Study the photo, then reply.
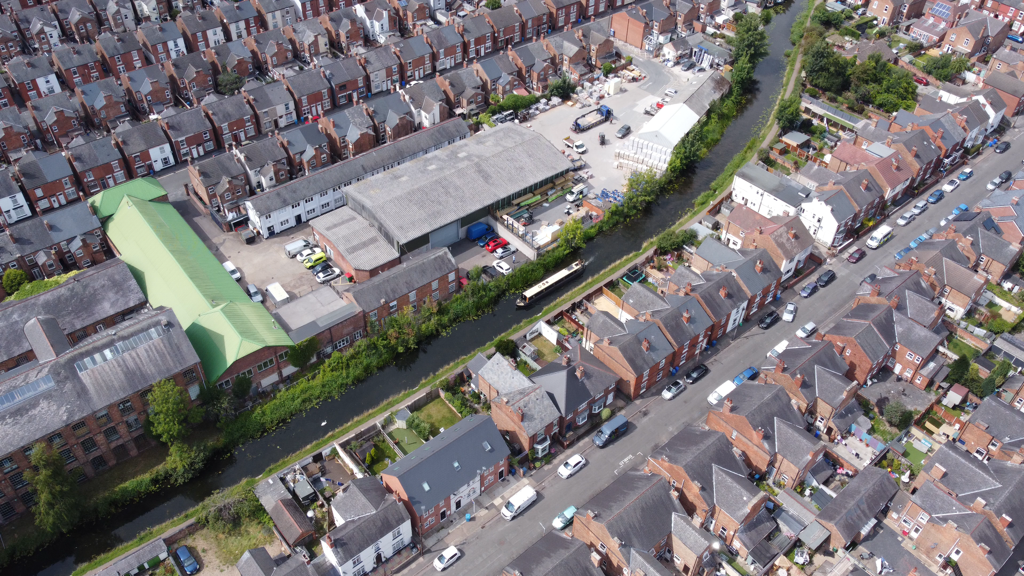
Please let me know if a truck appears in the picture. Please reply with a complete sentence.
Yes, looking at the shot, I can spot a truck.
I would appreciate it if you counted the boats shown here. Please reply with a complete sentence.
Altogether the scene contains 1 boat.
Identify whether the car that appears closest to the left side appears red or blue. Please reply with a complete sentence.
The car that appears closest to the left side looks blue in the image.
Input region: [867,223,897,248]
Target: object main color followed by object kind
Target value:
white vehicle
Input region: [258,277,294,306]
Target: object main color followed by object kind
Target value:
white truck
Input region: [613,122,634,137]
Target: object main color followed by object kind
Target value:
gray car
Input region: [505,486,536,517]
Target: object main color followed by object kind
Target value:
white van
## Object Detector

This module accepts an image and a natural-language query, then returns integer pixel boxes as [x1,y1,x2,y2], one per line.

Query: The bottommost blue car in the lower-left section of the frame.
[174,545,199,576]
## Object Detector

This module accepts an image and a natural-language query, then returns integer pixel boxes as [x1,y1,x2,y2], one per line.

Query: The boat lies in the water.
[519,259,586,309]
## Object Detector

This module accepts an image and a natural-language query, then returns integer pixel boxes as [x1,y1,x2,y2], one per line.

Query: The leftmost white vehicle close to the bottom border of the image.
[431,545,464,571]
